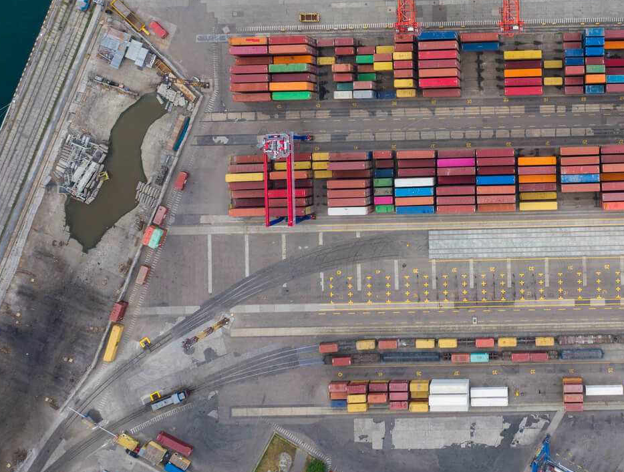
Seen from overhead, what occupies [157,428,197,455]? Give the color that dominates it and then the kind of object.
red shipping container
